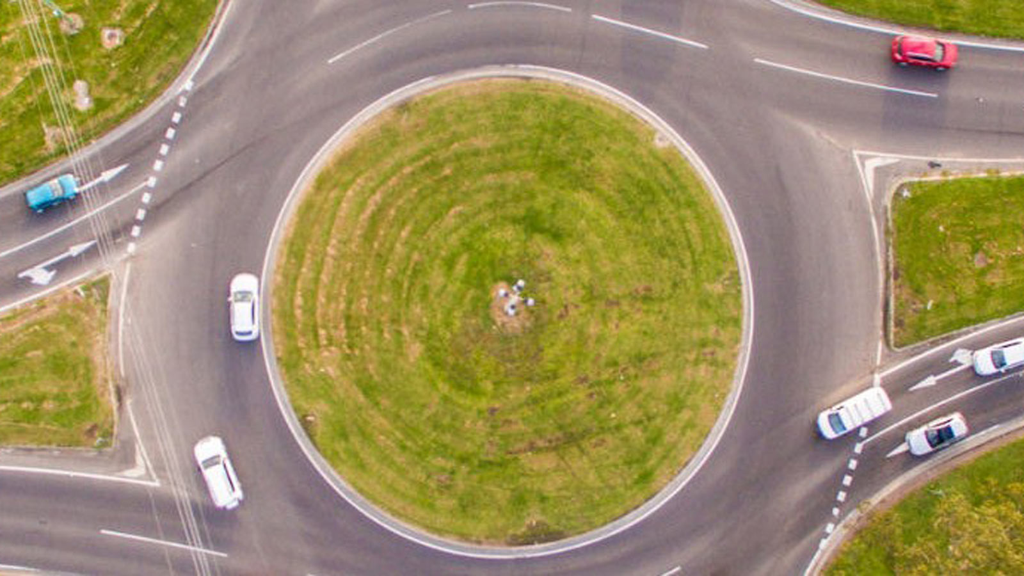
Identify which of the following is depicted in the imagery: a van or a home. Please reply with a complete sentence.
This aerial view contains a van.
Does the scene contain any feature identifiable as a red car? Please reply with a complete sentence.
Yes, a red car appears in the view.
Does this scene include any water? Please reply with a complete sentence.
No, the scene doesn't show any water.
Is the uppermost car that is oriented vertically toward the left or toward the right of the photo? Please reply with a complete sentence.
The uppermost car that is oriented vertically appears in the left half of the scene.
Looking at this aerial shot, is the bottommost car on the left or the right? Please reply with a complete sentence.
The bottommost car is on the left side of the image.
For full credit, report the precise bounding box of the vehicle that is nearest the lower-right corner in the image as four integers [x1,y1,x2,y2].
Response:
[904,411,965,452]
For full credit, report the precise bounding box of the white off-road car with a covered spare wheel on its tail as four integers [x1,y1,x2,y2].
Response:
[198,435,245,512]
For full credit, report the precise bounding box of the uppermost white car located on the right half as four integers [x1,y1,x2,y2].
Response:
[969,332,1024,372]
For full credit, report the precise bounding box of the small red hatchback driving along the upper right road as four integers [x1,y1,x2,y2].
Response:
[890,38,958,70]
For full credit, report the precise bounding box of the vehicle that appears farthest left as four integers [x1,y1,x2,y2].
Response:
[25,173,83,211]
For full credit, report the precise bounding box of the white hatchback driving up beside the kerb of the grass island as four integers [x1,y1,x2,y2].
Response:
[227,273,261,341]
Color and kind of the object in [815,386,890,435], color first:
white van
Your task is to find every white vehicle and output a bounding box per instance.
[969,332,1024,372]
[904,411,965,452]
[227,273,261,341]
[198,435,245,512]
[815,386,890,435]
